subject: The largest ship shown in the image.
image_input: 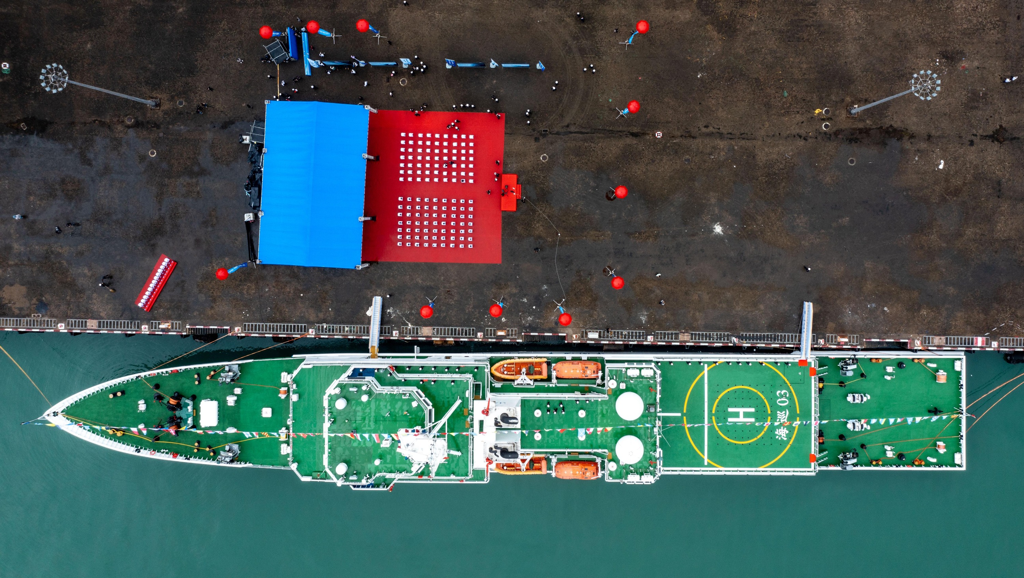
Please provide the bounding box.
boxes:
[21,346,976,491]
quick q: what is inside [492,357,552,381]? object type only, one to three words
boat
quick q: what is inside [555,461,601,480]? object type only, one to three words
boat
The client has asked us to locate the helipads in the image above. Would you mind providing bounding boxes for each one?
[649,356,819,476]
